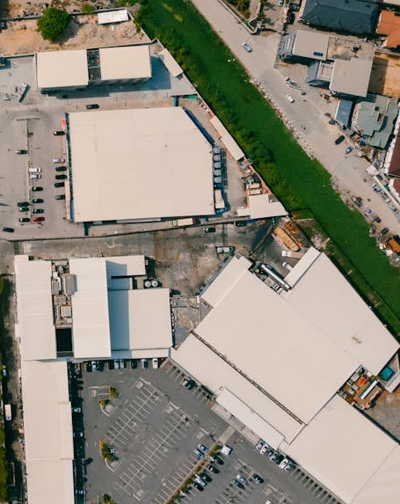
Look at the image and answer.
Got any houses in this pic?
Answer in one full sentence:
Yes, the photo shows a house.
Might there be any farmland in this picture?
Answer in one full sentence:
No, farmland can't be seen anywhere here.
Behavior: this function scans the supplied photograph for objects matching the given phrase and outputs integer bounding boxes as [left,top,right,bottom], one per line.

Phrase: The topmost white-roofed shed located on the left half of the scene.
[99,9,129,25]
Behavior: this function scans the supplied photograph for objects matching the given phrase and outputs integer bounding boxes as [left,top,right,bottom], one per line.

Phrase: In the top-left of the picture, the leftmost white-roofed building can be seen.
[36,51,88,91]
